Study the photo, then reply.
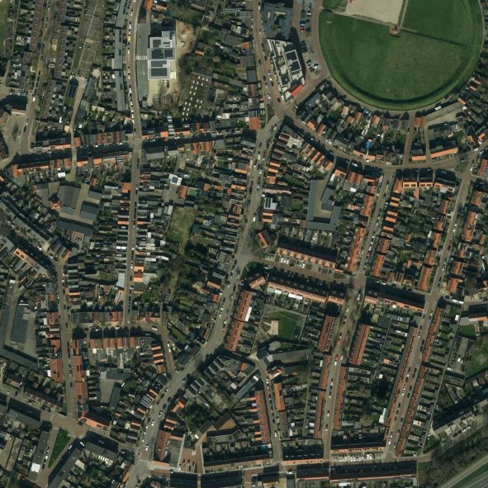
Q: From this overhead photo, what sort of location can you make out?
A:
residential area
